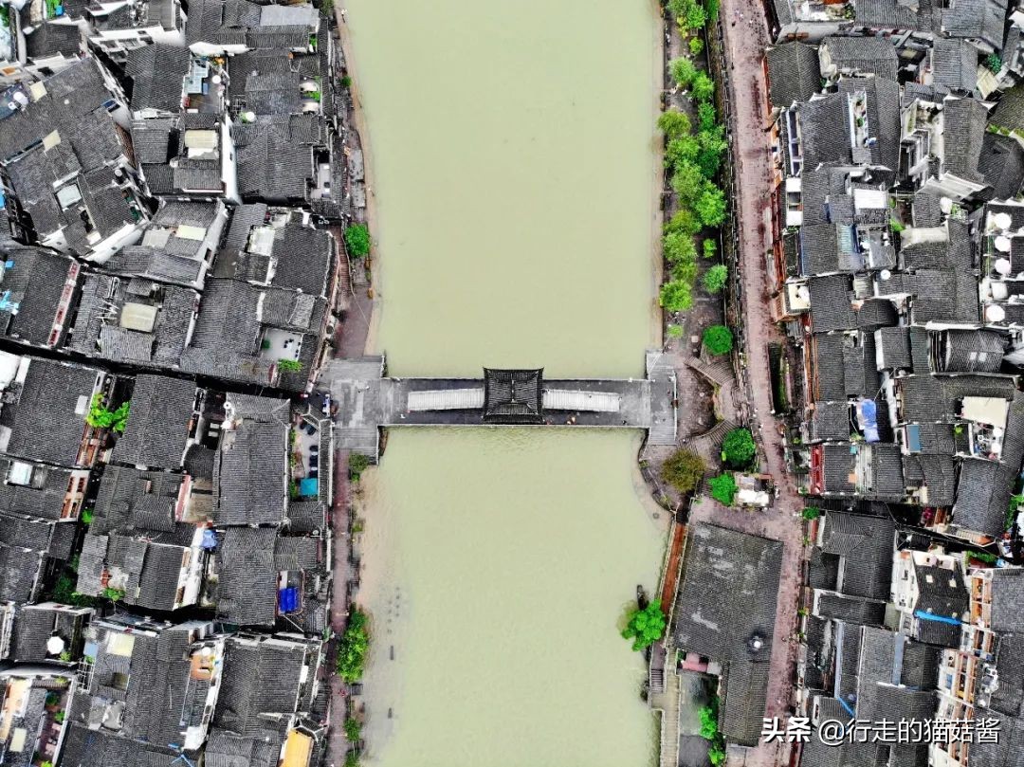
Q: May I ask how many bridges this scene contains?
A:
1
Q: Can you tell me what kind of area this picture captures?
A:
residential area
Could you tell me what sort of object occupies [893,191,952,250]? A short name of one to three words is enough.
house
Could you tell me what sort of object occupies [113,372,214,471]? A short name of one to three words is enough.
house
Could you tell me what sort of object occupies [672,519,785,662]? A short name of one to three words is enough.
building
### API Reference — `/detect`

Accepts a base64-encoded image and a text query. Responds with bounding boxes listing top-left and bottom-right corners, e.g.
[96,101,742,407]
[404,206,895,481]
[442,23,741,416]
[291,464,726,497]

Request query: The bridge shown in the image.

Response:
[331,349,679,450]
